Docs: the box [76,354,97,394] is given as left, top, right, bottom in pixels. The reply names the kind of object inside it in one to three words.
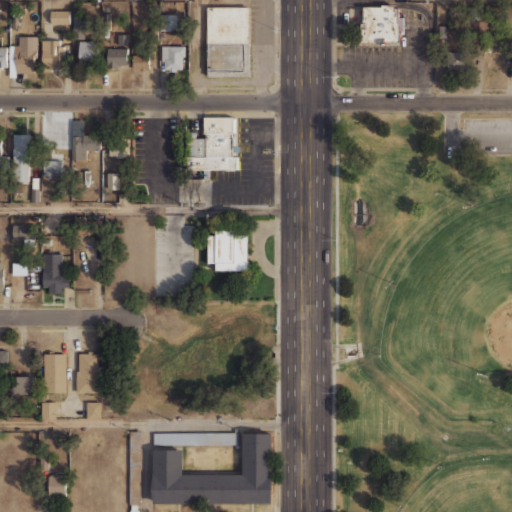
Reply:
house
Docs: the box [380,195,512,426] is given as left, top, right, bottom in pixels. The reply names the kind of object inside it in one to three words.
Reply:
baseball field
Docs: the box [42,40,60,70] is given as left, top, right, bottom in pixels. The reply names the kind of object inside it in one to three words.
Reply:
house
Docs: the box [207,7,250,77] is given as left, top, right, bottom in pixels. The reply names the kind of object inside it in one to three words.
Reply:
building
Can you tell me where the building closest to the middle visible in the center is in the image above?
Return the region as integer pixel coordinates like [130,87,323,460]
[208,229,248,272]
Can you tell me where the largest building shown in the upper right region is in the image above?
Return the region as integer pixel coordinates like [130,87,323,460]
[361,4,401,47]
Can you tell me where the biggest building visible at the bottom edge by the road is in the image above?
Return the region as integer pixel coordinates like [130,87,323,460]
[152,435,270,504]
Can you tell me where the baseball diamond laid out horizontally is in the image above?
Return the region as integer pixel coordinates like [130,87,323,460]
[398,458,512,512]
